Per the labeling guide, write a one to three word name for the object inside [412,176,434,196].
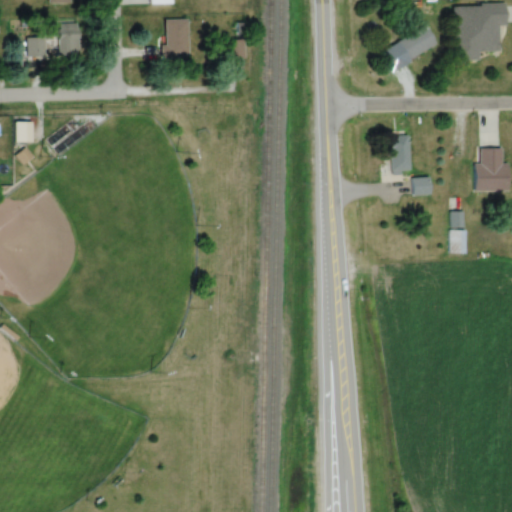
building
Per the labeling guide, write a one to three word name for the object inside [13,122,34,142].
building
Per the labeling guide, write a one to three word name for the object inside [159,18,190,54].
house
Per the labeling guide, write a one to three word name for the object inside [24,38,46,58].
house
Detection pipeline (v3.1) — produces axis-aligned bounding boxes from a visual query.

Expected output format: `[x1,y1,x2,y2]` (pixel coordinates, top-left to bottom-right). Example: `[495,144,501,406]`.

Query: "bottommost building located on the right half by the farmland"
[446,230,468,254]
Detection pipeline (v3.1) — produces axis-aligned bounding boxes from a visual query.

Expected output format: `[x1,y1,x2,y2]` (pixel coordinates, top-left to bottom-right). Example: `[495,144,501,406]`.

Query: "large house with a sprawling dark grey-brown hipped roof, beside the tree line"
[451,2,507,64]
